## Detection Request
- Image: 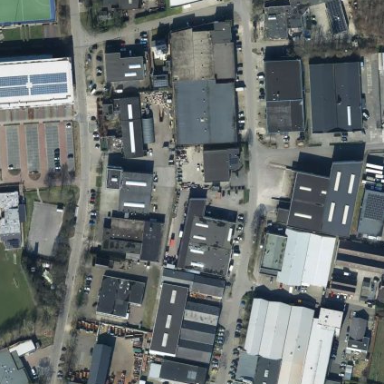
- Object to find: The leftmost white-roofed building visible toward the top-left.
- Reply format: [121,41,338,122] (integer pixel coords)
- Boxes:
[0,58,74,112]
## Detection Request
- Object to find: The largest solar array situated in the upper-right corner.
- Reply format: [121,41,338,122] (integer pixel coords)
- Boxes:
[327,1,347,32]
